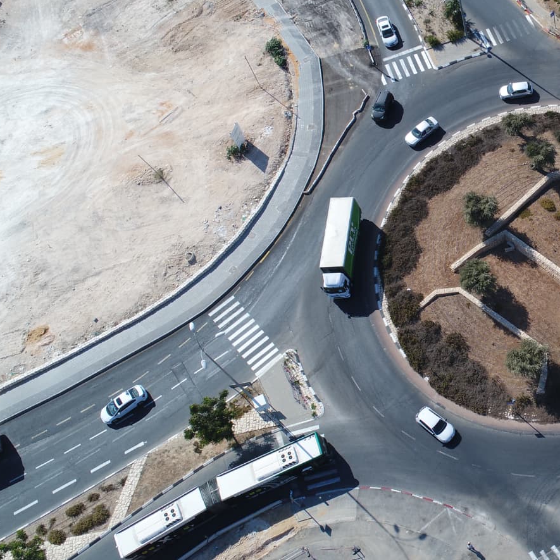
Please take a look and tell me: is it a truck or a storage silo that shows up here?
truck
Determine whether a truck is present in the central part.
Yes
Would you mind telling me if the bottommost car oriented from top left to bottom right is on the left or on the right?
right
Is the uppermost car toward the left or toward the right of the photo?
right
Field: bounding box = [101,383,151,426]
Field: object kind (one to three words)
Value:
car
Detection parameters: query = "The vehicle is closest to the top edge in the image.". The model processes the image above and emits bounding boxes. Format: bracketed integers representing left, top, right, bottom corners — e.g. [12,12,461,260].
[376,15,400,50]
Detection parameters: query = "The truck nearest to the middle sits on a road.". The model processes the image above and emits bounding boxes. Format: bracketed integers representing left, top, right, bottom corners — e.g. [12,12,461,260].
[318,198,359,304]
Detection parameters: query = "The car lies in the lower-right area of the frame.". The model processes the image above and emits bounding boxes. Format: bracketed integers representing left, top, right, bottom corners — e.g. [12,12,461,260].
[414,405,457,447]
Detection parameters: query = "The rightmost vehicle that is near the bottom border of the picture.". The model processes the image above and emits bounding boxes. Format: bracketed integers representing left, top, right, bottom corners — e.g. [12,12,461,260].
[113,428,331,560]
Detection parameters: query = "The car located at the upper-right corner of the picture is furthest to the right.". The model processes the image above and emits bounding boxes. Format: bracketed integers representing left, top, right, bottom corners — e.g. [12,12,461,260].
[498,81,535,101]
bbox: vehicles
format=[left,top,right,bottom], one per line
[376,15,400,50]
[403,115,443,148]
[369,88,396,126]
[414,405,457,447]
[113,428,331,560]
[498,81,535,101]
[101,383,151,426]
[318,198,359,304]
